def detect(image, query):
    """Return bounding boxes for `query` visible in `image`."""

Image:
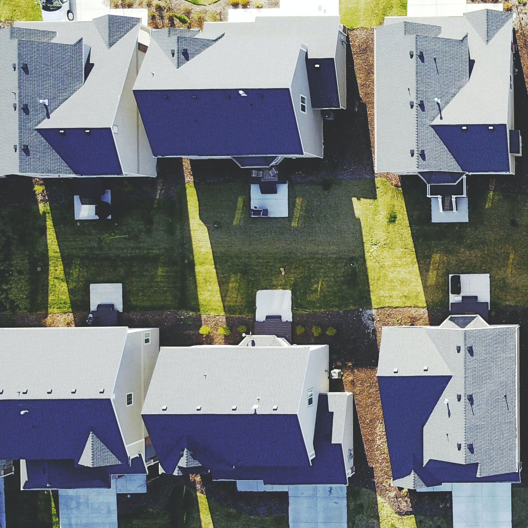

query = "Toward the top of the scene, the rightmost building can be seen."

[374,9,525,185]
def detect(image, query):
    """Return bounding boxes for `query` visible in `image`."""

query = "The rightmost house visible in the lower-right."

[376,313,522,489]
